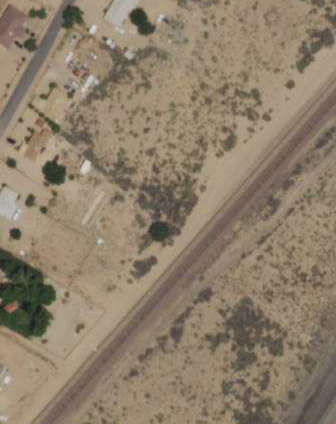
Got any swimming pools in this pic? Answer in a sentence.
No, there is no swimming pool in the image.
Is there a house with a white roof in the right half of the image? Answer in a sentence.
No, the scene shows no house with a white roof in the right half of the image.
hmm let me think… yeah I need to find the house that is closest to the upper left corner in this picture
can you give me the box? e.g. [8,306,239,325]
[0,5,26,50]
